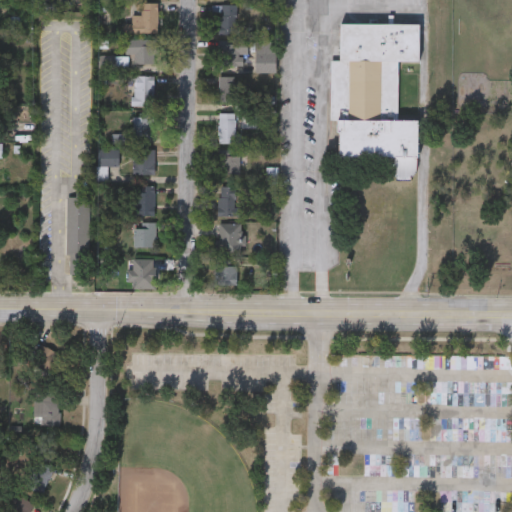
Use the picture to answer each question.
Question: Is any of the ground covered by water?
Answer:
No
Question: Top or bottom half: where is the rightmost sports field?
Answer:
top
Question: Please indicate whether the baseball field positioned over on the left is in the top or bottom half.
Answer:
bottom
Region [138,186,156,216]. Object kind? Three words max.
house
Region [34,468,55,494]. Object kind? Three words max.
house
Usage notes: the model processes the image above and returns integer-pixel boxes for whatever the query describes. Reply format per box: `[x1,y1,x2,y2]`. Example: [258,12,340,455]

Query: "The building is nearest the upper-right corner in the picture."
[332,15,420,180]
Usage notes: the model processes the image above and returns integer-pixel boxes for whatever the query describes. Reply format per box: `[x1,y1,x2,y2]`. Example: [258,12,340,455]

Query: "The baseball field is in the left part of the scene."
[120,400,254,512]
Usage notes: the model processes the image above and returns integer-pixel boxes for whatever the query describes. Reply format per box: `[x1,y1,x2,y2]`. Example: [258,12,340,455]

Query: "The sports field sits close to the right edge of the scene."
[456,0,512,80]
